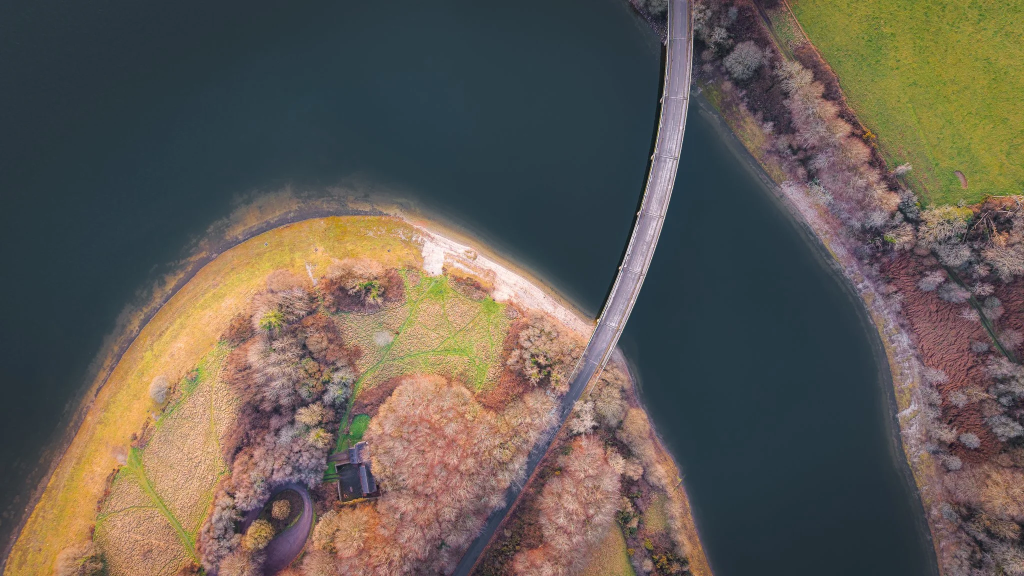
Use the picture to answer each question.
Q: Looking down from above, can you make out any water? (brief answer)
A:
Yes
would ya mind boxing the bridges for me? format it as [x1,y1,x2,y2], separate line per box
[567,0,694,396]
